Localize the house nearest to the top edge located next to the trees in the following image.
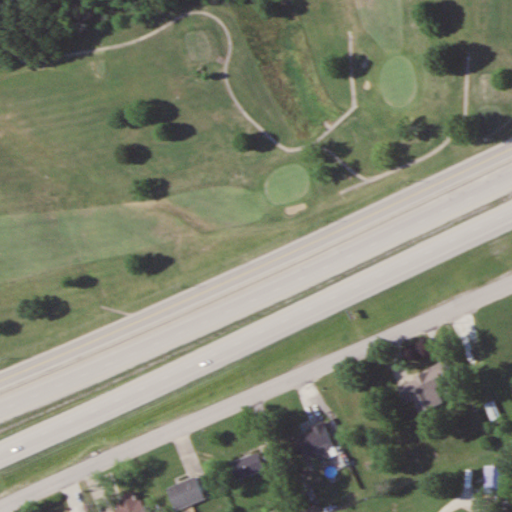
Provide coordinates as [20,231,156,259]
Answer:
[416,366,446,410]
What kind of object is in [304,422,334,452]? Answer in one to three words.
house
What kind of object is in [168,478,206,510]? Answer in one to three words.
house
